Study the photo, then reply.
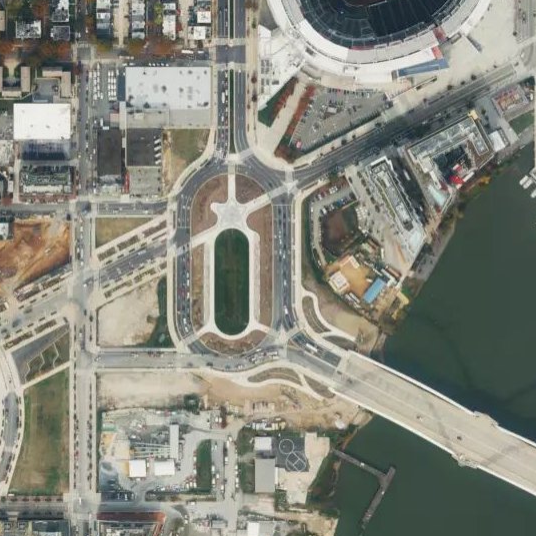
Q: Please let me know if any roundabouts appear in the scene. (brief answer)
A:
Yes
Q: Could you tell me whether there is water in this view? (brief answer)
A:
Yes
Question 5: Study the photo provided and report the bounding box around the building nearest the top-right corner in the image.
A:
[492,87,529,118]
